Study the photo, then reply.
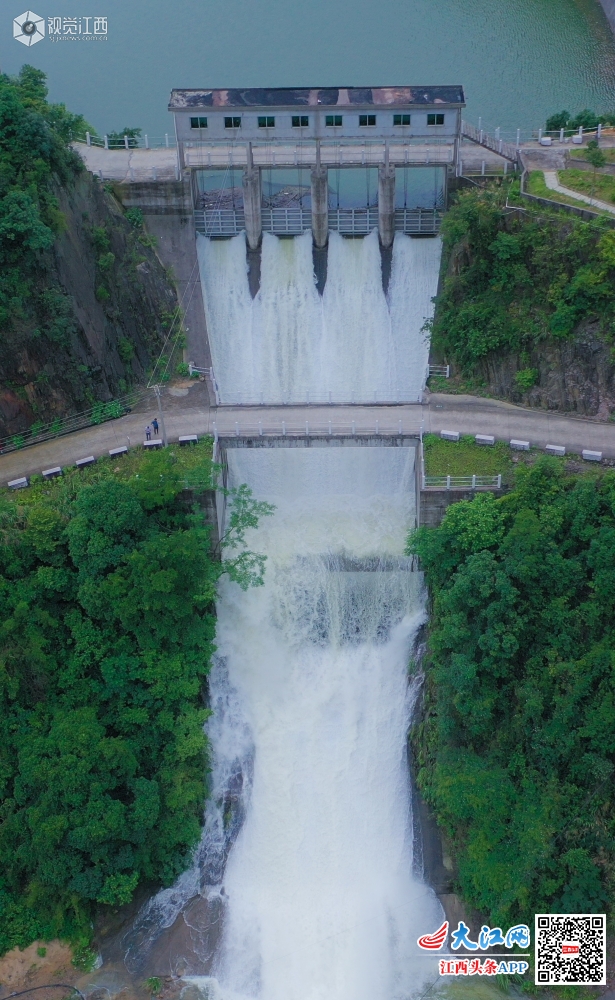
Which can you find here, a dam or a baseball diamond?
dam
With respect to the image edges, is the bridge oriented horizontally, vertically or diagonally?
horizontally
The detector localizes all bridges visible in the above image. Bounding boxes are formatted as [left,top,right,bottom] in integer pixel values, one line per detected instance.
[210,394,432,448]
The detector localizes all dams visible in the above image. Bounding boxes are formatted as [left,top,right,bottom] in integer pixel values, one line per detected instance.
[62,129,530,390]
